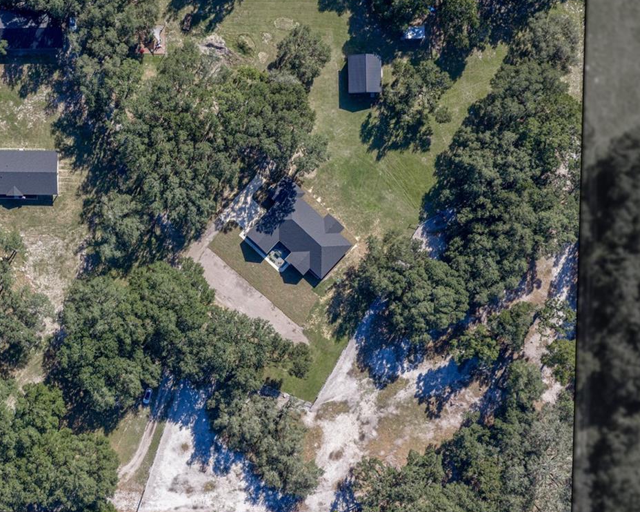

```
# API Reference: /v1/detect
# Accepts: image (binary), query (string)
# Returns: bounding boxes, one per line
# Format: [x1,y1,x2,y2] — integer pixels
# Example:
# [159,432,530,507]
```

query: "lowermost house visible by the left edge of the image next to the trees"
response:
[0,152,59,199]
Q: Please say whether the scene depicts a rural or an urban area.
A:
rural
